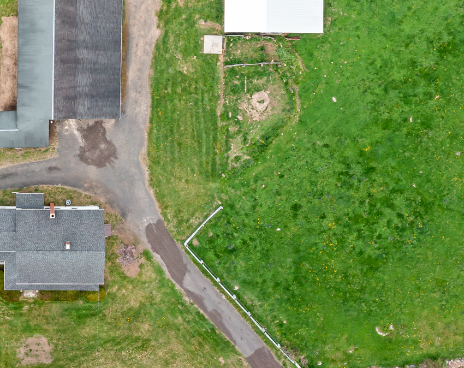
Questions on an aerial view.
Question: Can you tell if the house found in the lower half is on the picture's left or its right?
left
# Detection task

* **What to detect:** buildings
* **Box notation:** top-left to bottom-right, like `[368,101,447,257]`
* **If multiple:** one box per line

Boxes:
[0,0,123,147]
[219,0,323,33]
[0,191,112,300]
[201,36,224,54]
